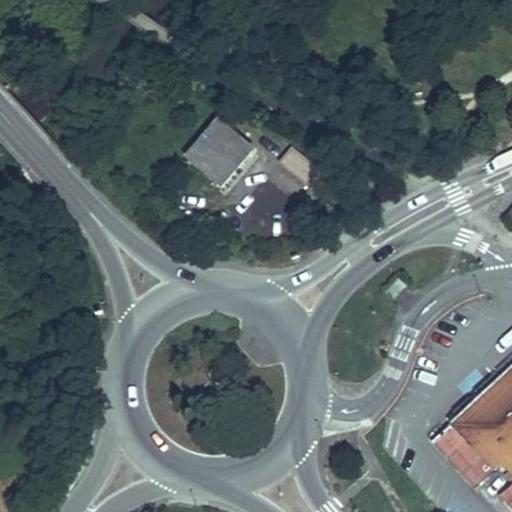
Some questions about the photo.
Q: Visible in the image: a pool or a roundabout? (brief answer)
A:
roundabout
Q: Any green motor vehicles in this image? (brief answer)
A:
No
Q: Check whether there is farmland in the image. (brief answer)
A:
No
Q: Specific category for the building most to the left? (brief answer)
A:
residential house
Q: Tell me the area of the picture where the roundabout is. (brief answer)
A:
bottom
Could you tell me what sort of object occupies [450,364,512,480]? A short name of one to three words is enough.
building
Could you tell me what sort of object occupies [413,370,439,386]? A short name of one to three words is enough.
vehicle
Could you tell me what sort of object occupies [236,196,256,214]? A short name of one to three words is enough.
car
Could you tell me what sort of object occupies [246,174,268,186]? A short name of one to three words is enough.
vehicle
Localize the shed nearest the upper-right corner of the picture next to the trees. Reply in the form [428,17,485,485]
[280,146,312,190]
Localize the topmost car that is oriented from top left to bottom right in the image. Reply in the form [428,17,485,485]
[260,136,280,156]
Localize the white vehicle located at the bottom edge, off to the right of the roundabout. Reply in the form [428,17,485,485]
[487,477,508,496]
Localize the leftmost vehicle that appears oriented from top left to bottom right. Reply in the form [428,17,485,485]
[150,432,170,452]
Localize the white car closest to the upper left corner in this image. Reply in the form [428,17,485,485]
[183,196,206,208]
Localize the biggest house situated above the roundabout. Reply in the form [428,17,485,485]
[184,117,258,194]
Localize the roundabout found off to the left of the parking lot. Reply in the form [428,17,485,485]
[104,272,329,498]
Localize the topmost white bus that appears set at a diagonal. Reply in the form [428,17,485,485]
[480,148,512,176]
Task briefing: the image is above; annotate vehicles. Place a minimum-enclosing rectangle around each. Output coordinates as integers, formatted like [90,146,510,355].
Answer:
[487,477,508,496]
[260,136,280,156]
[128,386,138,408]
[272,216,283,236]
[418,358,440,372]
[228,213,244,232]
[437,320,459,336]
[400,448,416,470]
[450,311,471,327]
[413,370,439,386]
[430,332,452,348]
[292,270,314,286]
[246,174,268,186]
[236,196,256,214]
[480,148,512,176]
[408,194,429,210]
[150,432,170,452]
[176,268,198,282]
[372,245,394,263]
[183,196,206,208]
